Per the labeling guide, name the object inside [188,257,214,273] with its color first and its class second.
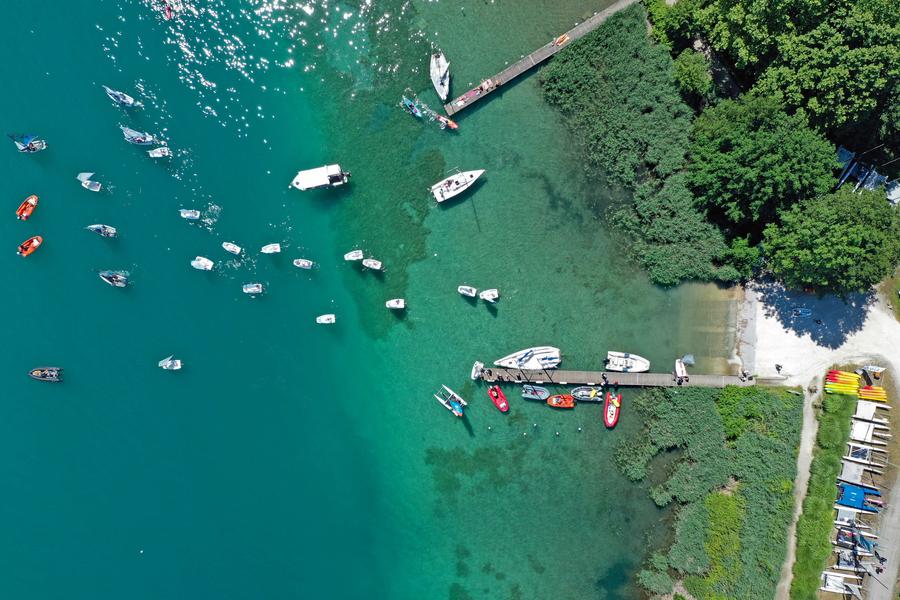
white boat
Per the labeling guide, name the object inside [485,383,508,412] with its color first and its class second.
red boat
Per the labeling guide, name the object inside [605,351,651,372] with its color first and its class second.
white boat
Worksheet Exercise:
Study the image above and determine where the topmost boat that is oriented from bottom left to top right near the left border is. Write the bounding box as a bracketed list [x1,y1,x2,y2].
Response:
[12,195,36,222]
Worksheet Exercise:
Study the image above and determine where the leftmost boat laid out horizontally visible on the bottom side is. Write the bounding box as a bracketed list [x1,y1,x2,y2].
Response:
[25,367,65,382]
